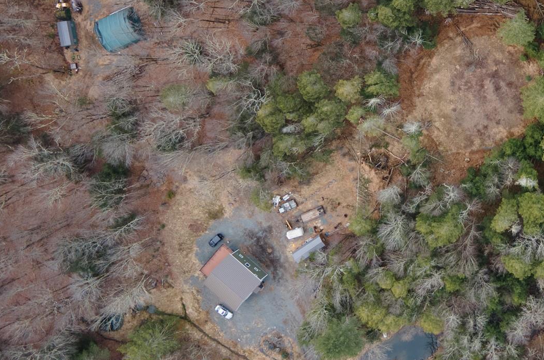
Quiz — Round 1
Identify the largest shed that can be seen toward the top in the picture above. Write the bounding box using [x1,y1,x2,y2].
[58,21,80,47]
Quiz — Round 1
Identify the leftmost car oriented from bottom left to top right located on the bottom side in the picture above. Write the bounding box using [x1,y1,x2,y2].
[207,231,227,248]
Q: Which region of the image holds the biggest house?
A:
bottom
